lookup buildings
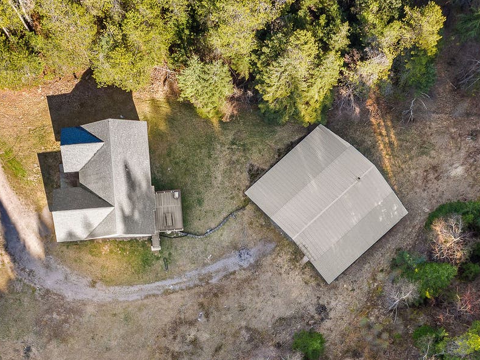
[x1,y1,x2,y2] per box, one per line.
[246,123,406,285]
[51,118,185,250]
